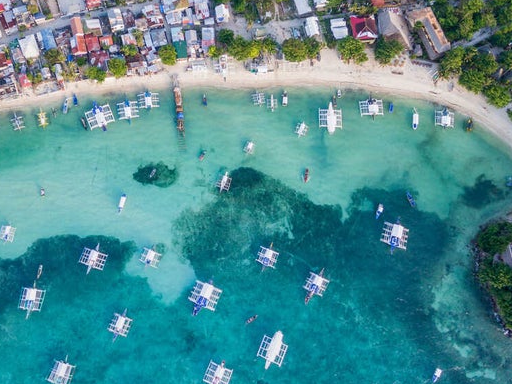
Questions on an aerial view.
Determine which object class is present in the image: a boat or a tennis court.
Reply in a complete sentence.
There is a boat in the scene.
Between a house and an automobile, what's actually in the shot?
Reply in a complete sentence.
There is a house in the scene.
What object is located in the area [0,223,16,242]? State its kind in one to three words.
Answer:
boat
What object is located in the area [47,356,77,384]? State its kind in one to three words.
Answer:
boat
